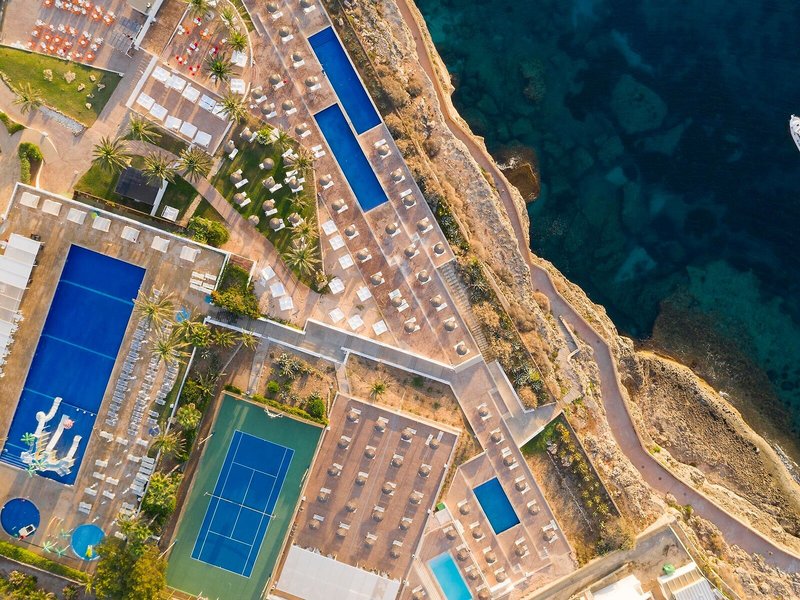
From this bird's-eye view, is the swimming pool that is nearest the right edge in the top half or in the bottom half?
bottom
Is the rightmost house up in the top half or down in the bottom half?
bottom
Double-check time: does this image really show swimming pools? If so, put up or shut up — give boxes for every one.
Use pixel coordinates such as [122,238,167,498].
[427,550,475,600]
[0,242,148,488]
[0,498,41,538]
[471,474,521,536]
[307,24,384,136]
[70,523,107,560]
[312,102,389,213]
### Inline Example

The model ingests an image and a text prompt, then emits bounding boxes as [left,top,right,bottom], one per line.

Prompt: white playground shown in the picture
[22,397,81,477]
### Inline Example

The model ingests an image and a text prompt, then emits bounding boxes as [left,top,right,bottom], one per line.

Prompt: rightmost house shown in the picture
[652,555,718,600]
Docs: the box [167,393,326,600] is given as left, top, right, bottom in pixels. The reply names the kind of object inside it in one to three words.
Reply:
tennis court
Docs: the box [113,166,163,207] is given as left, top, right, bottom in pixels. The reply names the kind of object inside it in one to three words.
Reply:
building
